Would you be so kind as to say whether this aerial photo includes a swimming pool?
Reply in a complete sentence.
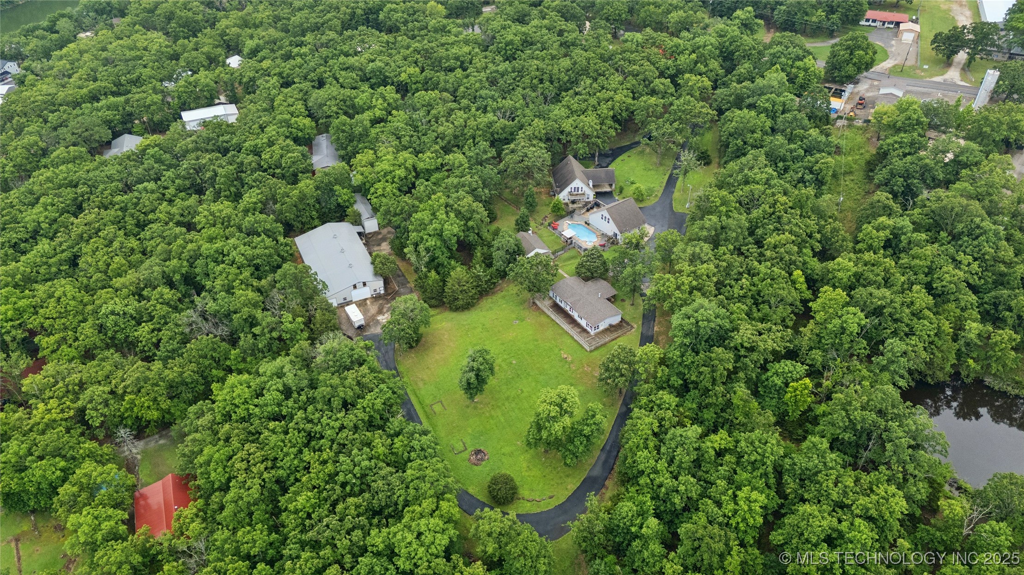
Yes, I can see a swimming pool in this picture.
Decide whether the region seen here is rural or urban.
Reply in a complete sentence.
From above, the setting appears rural.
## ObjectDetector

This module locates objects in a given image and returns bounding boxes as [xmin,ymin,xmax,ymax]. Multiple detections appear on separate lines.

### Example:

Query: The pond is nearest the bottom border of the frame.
[891,374,1024,491]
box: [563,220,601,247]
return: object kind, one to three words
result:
swimming pool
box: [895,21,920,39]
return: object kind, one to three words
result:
building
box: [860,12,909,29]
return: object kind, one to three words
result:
house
